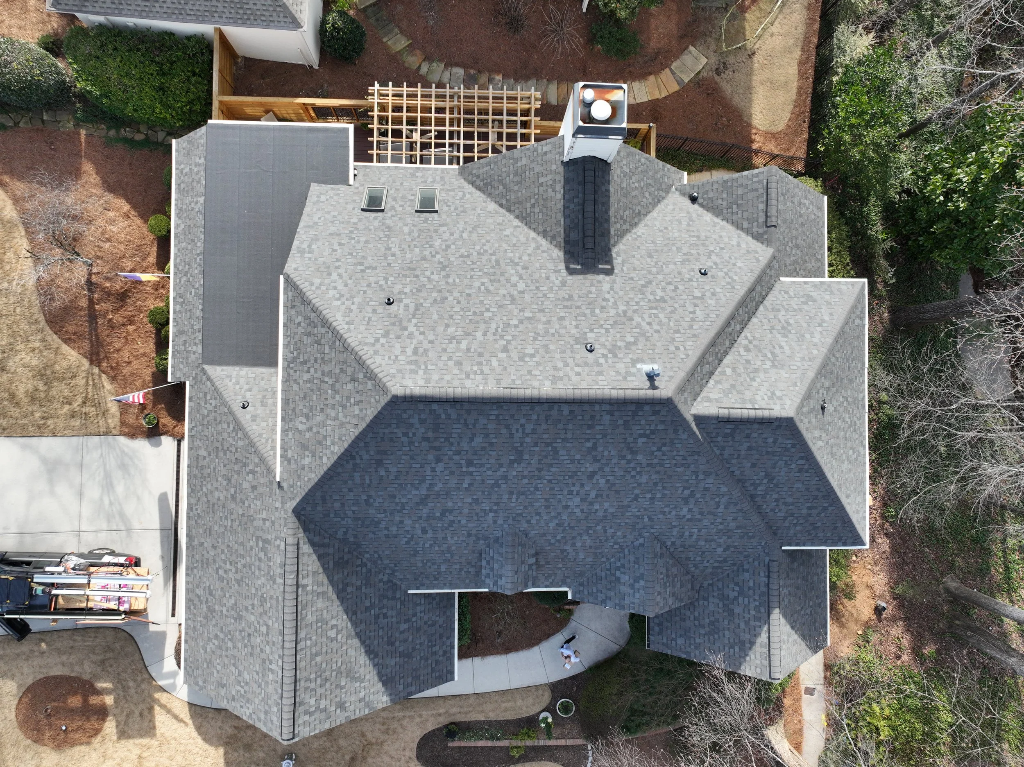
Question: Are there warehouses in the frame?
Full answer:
No, there is no warehouse in the image.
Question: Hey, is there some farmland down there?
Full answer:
No, the scene doesn't show any farmland.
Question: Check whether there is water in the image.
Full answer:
No, there is no water in the image.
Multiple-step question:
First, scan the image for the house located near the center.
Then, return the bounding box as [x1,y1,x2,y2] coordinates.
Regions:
[166,81,873,749]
